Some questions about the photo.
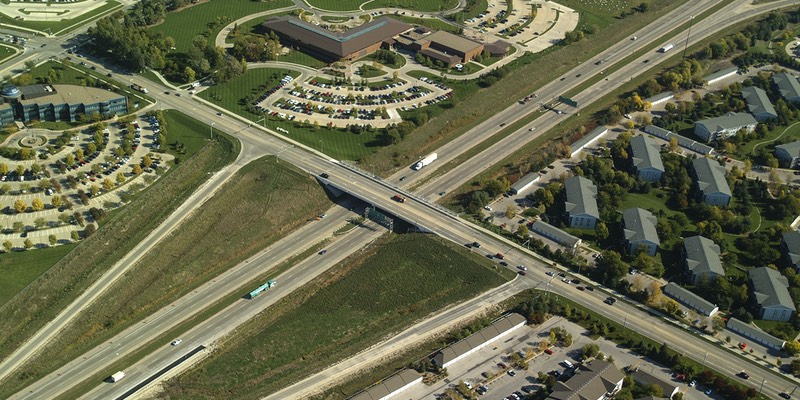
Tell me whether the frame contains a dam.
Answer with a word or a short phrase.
No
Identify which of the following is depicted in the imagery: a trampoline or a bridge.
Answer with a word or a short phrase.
bridge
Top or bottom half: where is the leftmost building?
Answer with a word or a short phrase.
top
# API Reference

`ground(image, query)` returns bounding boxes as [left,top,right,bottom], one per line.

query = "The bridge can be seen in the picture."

[326,154,484,230]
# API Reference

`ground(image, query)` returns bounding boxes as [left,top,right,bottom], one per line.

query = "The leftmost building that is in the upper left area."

[0,84,129,132]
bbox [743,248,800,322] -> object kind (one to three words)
building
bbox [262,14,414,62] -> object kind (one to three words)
building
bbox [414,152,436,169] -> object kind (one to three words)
vehicle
